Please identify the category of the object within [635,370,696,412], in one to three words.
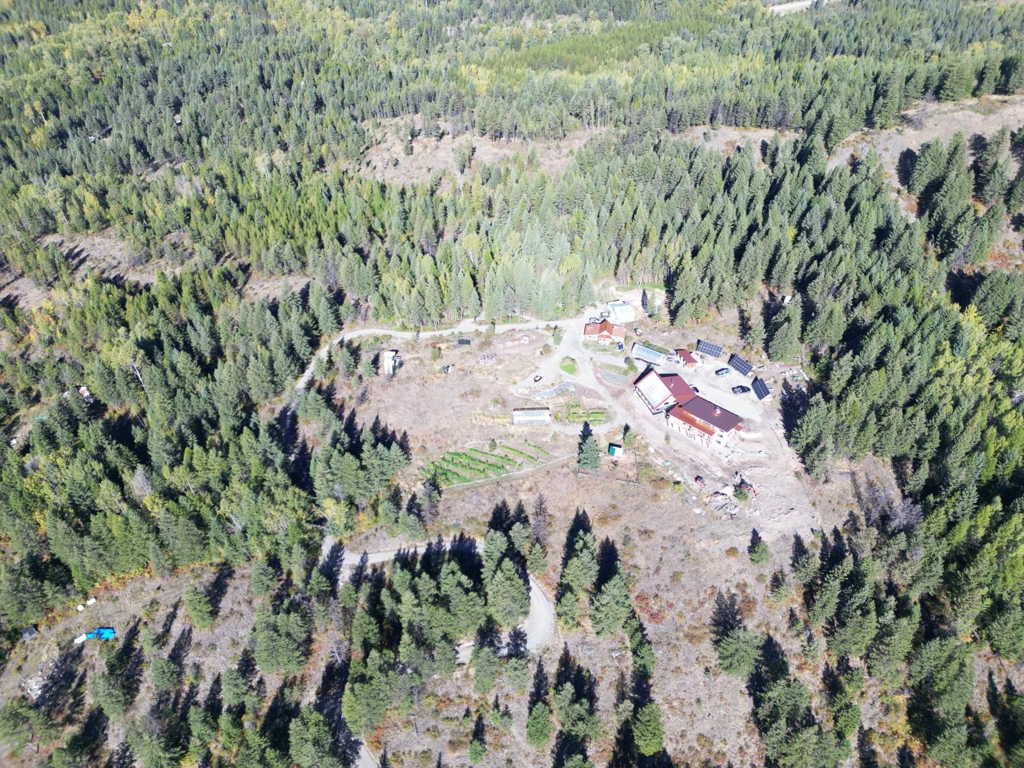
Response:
house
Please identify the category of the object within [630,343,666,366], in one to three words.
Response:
greenhouse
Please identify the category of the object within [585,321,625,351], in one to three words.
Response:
house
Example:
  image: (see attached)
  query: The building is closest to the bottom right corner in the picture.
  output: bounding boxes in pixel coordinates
[664,396,743,469]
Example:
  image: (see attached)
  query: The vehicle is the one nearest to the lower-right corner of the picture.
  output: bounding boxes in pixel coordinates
[737,479,767,499]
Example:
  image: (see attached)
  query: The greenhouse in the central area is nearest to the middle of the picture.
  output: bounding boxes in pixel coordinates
[512,411,552,430]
